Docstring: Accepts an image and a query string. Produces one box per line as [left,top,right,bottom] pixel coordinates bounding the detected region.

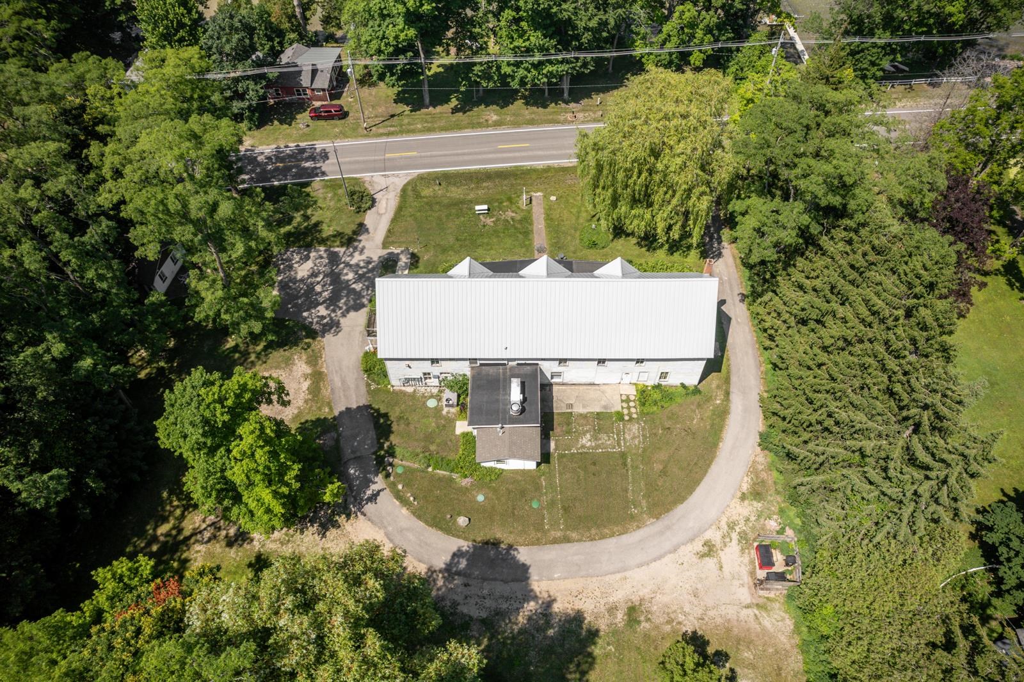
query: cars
[308,101,347,120]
